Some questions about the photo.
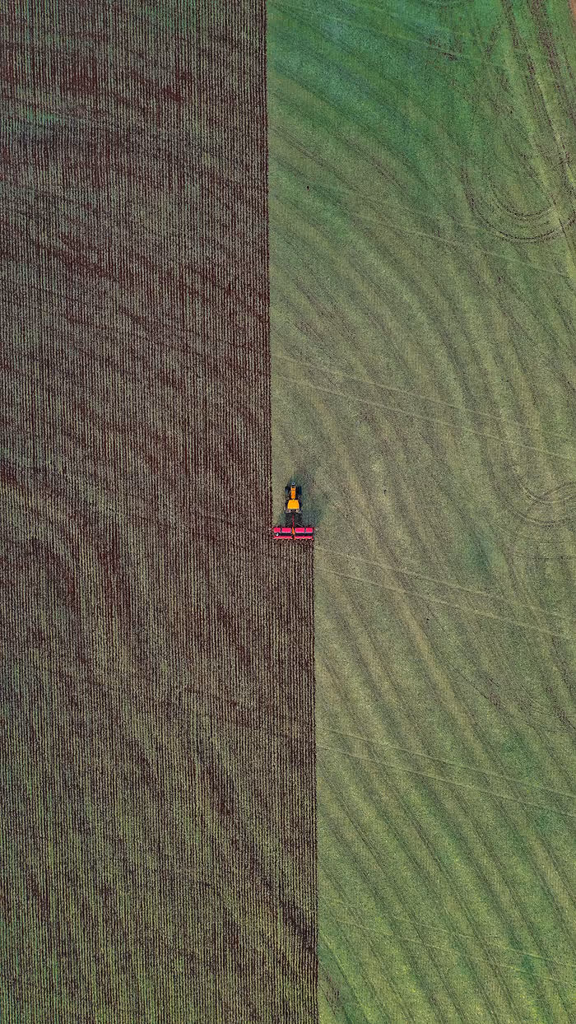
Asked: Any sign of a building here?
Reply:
No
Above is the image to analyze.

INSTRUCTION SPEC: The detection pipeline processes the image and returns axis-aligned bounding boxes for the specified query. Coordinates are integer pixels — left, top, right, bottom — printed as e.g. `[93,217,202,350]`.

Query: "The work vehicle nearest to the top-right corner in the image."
[283,481,303,515]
